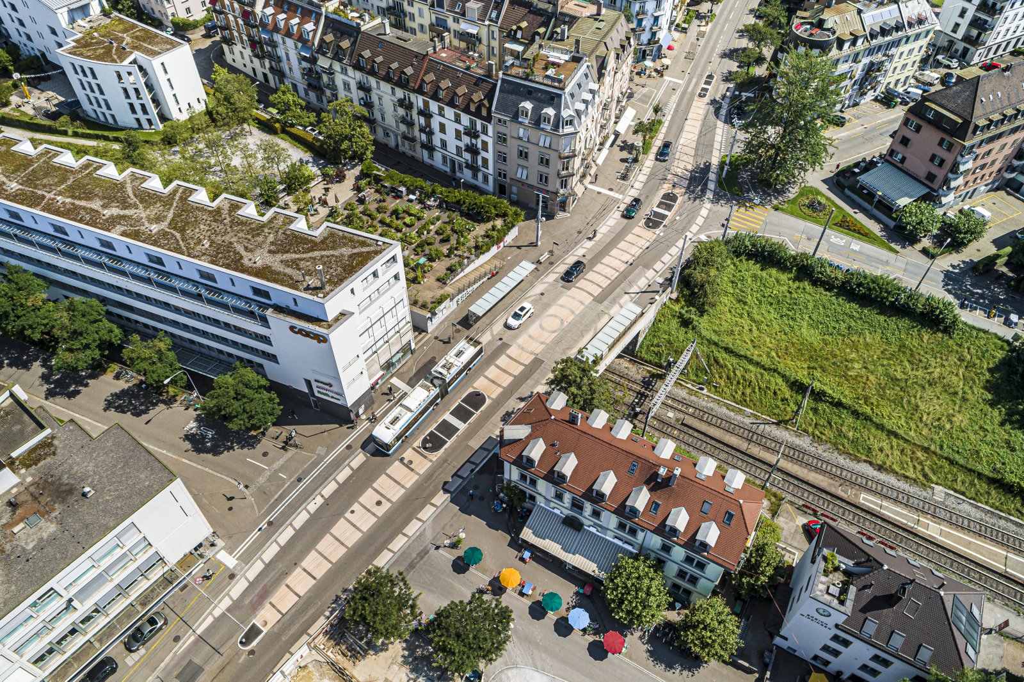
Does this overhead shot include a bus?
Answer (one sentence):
Yes, the picture does show a bus.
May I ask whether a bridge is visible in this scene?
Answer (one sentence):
Yes, a bridge is visible in the scene.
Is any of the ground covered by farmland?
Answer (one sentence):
No, there's no farmland in this view.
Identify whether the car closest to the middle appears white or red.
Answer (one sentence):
In this view, the car closest to the middle is white.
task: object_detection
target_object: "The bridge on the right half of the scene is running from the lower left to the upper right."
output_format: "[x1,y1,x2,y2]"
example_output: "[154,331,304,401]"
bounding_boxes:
[588,284,678,376]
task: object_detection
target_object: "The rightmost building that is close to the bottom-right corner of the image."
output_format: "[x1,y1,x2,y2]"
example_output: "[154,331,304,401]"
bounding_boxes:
[781,512,989,682]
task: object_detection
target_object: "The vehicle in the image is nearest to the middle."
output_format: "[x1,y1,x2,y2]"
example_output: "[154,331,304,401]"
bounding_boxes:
[505,300,535,327]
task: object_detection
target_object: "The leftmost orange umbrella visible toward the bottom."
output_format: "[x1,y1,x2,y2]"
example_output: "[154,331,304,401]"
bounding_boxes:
[497,566,523,592]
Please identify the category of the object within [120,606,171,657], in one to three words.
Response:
car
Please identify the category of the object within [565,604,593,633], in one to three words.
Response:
umbrella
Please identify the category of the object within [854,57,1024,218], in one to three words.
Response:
house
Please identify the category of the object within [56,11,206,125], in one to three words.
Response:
house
